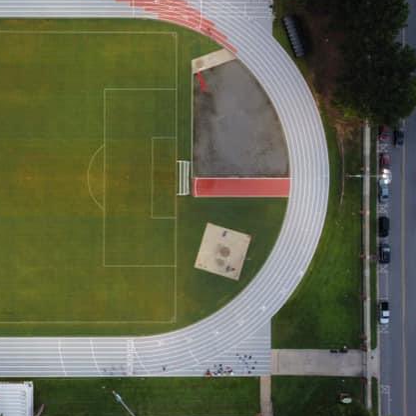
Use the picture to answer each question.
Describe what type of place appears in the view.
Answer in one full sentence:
What you see here is a sports ground.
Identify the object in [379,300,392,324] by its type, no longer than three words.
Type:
vehicle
